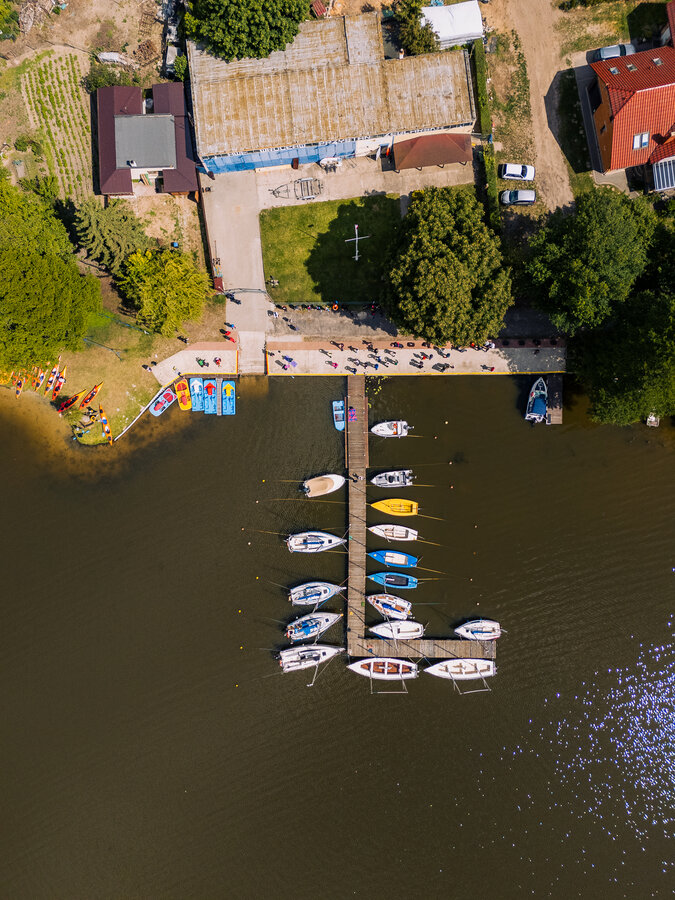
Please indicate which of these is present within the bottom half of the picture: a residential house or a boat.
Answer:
boat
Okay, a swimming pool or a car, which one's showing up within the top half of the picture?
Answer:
car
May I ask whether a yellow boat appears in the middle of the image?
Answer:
Yes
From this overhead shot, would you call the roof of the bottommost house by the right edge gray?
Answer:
No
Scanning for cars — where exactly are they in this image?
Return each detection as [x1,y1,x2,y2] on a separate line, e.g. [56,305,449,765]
[596,40,635,61]
[499,162,535,181]
[499,187,536,207]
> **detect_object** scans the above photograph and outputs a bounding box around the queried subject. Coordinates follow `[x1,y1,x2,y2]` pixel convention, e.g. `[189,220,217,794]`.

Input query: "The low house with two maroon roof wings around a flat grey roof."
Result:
[97,82,199,200]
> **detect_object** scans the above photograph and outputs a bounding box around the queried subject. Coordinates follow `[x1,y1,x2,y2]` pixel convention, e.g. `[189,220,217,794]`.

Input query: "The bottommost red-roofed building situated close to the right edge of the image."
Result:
[585,46,675,196]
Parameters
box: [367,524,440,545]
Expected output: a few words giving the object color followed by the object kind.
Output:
white boat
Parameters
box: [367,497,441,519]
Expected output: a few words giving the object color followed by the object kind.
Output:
yellow boat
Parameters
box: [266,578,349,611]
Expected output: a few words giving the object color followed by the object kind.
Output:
white boat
